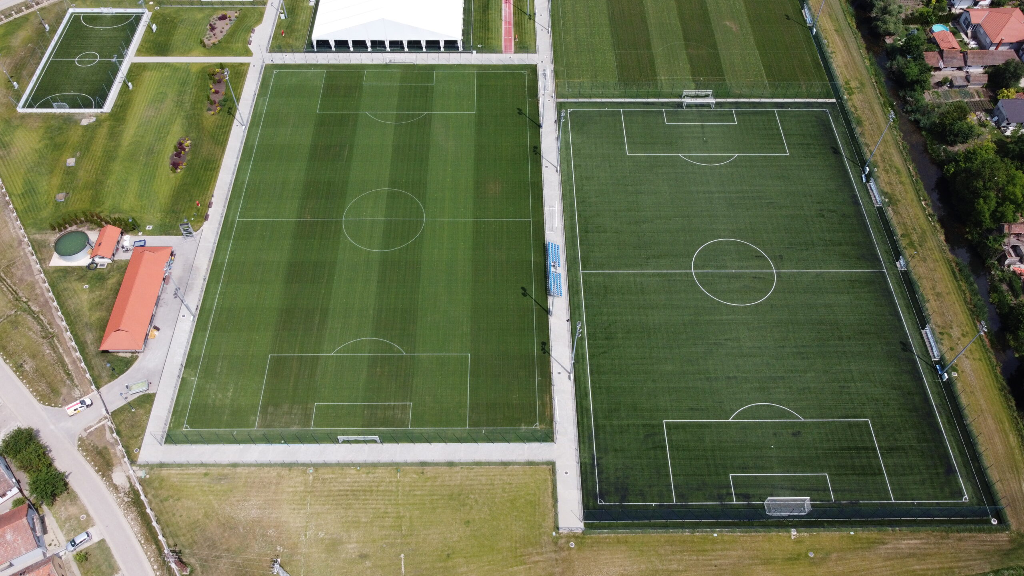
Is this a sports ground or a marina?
sports ground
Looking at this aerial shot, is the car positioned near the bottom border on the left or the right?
left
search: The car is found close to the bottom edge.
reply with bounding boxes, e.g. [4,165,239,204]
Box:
[63,532,91,552]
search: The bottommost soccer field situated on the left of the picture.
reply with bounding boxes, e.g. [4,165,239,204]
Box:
[164,63,553,444]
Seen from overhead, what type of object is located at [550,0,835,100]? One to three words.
soccer field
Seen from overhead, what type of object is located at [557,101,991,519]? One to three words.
soccer field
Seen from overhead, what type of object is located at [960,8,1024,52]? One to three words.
house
